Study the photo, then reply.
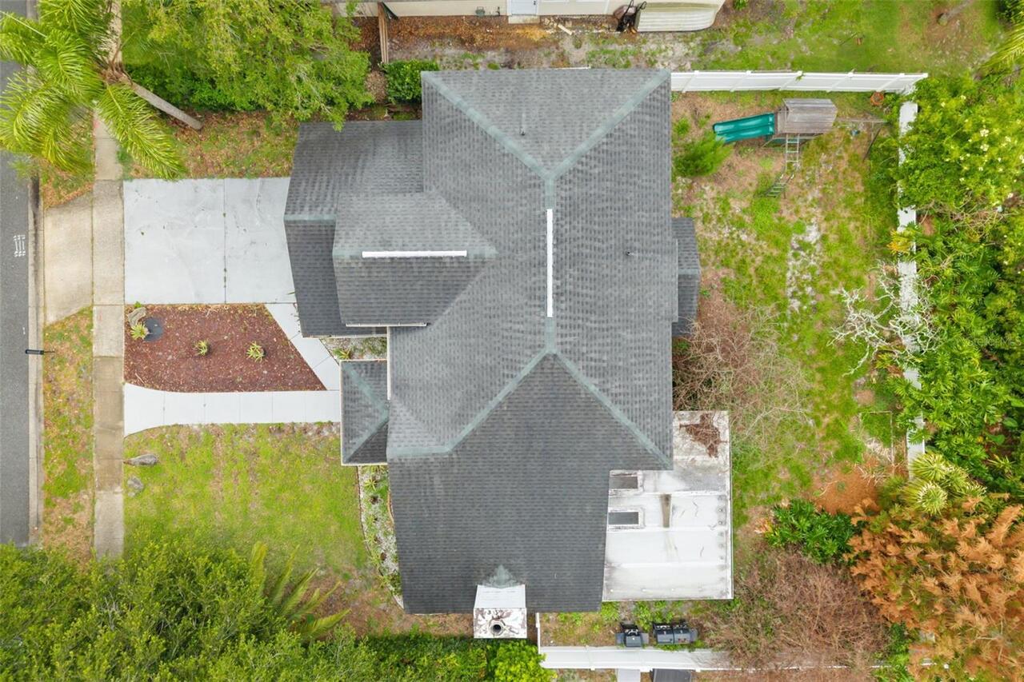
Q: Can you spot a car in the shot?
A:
No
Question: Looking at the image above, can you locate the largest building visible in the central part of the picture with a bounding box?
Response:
[284,66,734,638]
